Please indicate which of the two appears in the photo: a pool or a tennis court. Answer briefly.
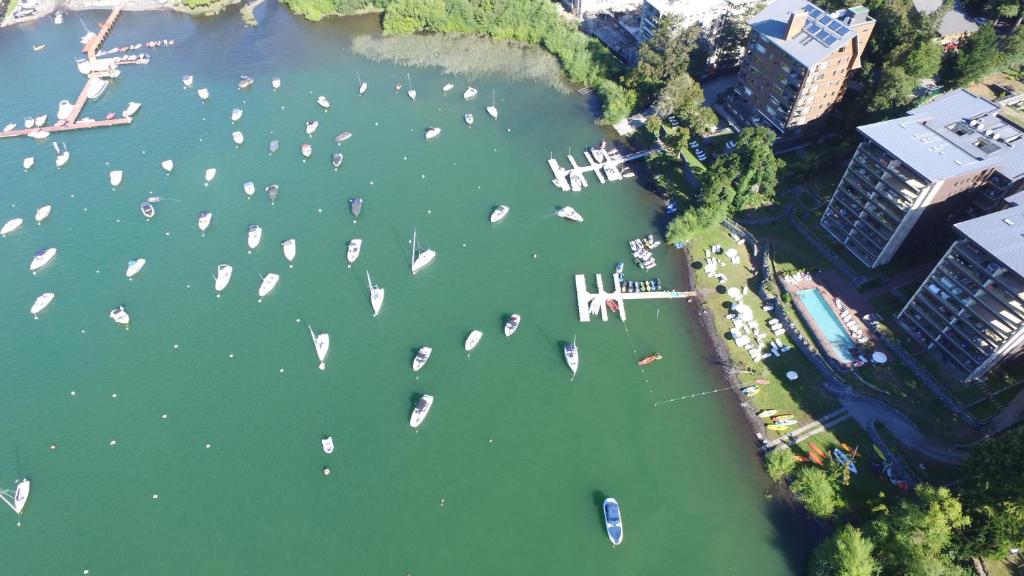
pool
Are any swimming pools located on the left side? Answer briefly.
No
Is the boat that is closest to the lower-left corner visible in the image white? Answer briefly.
Yes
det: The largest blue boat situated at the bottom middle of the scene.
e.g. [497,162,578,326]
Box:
[603,496,622,544]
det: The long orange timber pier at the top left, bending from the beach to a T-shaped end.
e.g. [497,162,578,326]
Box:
[0,4,150,140]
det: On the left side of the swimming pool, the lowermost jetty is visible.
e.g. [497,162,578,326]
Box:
[575,274,694,323]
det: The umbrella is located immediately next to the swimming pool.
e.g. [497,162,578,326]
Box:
[869,351,885,365]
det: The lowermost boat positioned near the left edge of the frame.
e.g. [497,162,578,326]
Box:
[0,478,33,512]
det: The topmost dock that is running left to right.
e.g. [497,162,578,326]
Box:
[548,144,653,193]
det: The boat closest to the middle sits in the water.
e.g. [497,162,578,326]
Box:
[505,309,523,335]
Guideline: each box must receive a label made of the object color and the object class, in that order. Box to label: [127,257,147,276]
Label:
white boat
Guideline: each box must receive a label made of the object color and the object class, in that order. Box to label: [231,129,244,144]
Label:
white boat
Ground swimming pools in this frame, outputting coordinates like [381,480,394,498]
[780,269,874,370]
